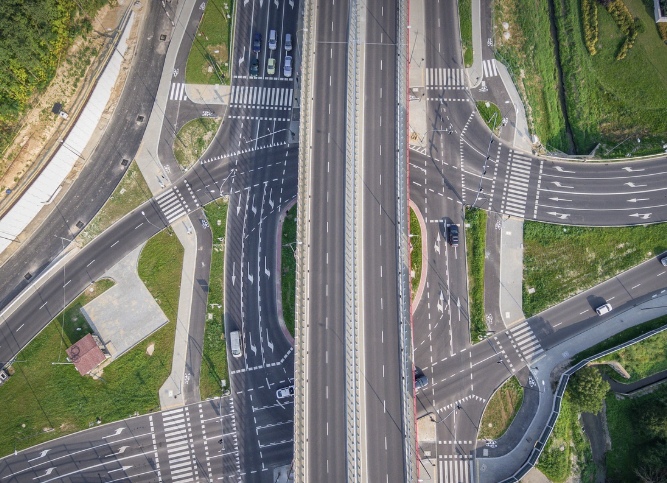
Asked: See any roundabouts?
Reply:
No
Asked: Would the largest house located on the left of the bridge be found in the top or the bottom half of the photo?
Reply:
bottom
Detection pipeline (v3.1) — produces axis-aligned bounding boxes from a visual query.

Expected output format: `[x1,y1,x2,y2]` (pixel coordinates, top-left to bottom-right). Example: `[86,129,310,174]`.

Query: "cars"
[268,31,277,50]
[416,374,429,388]
[266,58,276,76]
[449,225,459,247]
[249,59,259,78]
[283,57,292,77]
[283,34,292,51]
[252,33,262,53]
[275,385,295,399]
[594,301,615,316]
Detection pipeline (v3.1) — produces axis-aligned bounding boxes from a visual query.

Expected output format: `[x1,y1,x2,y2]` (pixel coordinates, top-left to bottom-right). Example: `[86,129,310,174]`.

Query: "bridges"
[293,0,420,483]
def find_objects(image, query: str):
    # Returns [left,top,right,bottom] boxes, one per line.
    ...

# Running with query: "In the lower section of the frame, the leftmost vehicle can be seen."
[228,331,242,358]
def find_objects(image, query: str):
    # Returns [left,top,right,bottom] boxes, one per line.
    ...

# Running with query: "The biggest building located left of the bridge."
[66,333,109,376]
